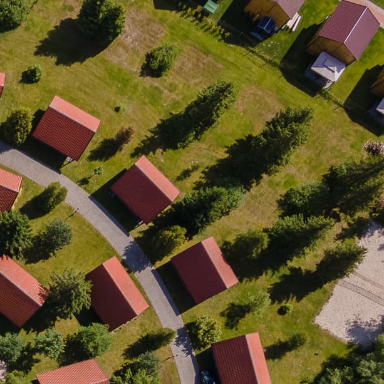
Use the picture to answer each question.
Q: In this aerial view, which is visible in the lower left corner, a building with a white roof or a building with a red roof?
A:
building with a red roof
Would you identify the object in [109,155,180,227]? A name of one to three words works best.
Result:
building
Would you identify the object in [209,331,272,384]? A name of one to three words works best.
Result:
building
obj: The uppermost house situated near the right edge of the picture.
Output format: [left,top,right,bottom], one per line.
[306,0,379,63]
